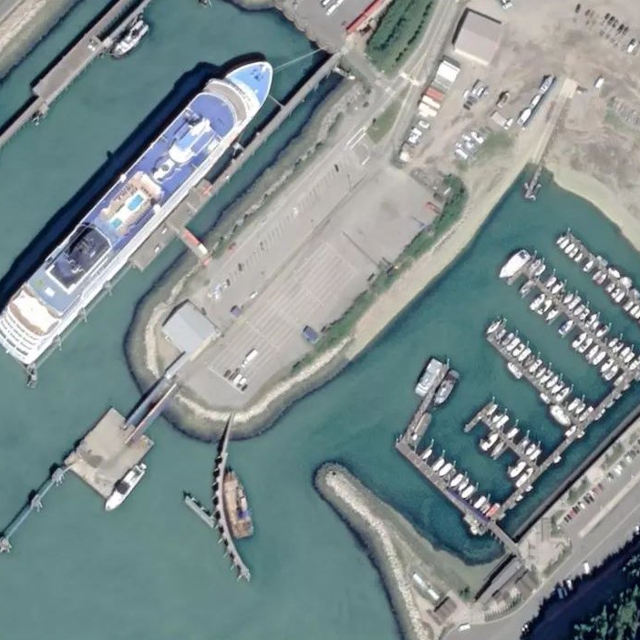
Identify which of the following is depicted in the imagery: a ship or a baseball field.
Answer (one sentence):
I can see a ship in this picture.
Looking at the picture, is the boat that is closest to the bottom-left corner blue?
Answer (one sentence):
No, the boat that is closest to the bottom-left corner is actually white.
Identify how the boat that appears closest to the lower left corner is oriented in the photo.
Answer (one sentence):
The boat that appears closest to the lower left corner is oriented diagonally.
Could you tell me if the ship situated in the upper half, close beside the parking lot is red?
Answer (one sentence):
No, the ship situated in the upper half, close beside the parking lot is white.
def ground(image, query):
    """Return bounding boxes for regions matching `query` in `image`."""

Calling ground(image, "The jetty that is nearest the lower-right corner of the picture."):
[493,516,527,561]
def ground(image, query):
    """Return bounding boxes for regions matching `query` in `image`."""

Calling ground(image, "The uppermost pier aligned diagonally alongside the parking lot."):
[206,54,348,191]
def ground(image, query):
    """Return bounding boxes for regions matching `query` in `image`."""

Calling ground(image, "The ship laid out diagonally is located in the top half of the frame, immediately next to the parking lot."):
[0,66,268,362]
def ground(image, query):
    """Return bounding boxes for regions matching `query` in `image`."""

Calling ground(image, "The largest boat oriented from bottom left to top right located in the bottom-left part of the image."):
[108,461,150,506]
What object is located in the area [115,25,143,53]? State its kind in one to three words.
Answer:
boat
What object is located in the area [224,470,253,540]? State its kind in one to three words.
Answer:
ship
